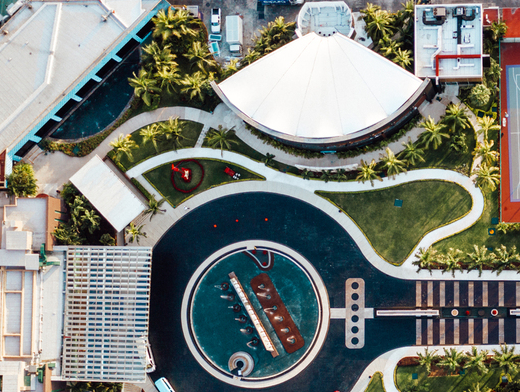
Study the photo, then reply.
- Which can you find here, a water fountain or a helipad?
water fountain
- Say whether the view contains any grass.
Yes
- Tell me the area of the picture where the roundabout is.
bottom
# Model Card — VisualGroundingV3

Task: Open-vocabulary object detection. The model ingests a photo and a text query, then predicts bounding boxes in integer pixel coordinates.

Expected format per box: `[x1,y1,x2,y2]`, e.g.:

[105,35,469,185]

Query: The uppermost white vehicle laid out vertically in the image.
[209,7,221,33]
